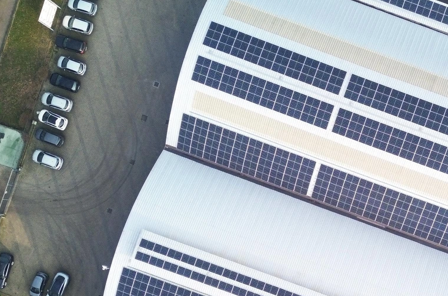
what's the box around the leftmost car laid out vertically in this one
[0,252,15,289]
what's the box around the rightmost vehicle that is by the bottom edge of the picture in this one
[46,271,71,296]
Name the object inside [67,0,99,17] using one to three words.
car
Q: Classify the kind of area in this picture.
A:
industrial area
